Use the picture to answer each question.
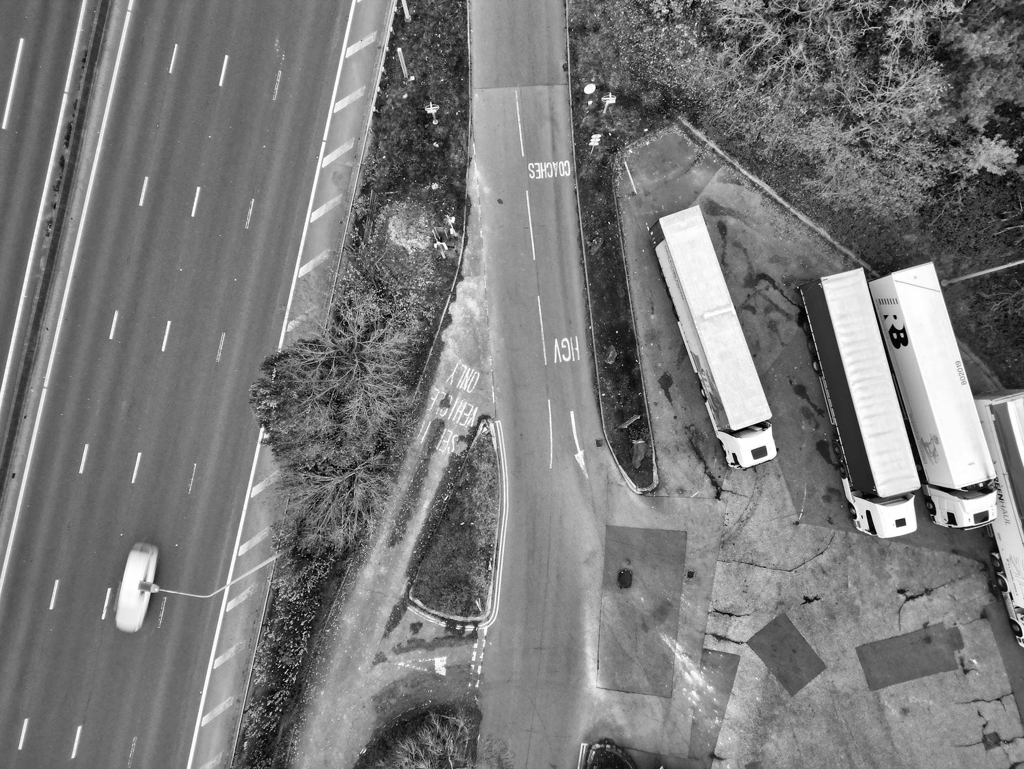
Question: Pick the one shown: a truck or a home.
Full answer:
The one in the frame is a truck.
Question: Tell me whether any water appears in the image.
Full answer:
No, the scene doesn't show any water.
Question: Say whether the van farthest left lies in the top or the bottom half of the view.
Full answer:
The bottom half of the photo is where the van farthest left is.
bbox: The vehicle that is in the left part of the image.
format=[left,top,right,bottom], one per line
[111,542,166,634]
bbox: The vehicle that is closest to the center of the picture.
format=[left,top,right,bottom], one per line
[649,206,781,473]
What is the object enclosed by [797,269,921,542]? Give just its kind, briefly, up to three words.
truck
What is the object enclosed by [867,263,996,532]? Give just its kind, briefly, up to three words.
truck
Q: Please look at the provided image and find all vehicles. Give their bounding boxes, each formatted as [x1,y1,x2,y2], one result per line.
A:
[974,393,1024,652]
[867,263,996,532]
[797,269,921,542]
[649,206,781,473]
[111,542,166,634]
